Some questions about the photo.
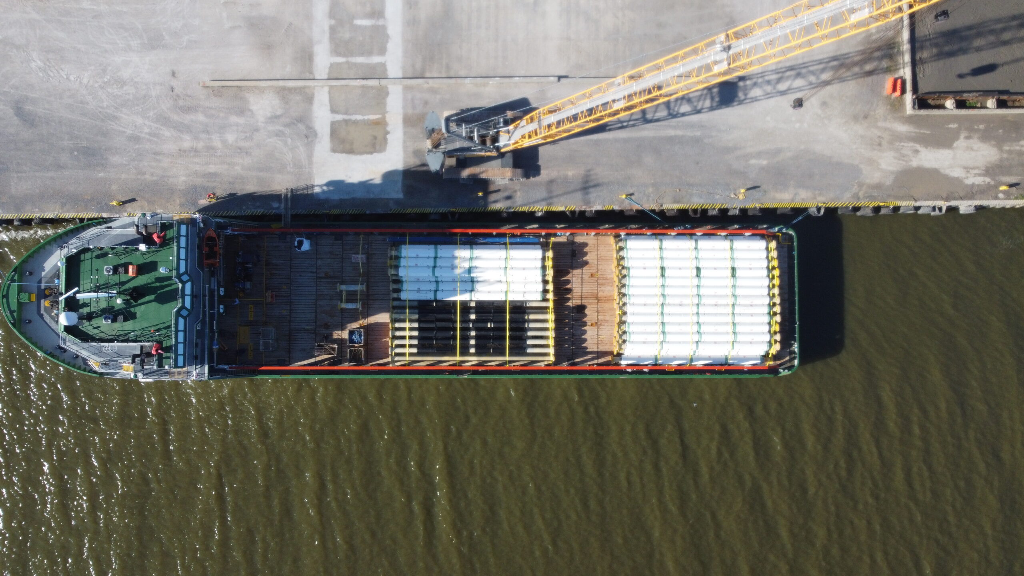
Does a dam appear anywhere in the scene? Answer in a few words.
No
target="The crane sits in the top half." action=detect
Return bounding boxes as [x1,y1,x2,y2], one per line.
[425,0,973,182]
